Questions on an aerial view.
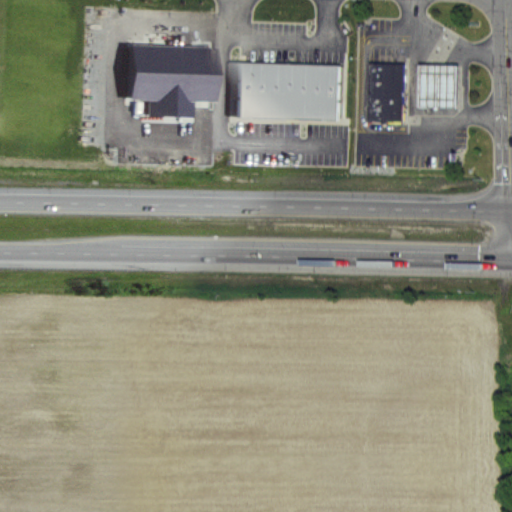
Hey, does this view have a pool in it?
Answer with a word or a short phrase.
No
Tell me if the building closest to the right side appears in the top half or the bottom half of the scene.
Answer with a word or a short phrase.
top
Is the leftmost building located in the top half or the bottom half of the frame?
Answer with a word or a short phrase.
top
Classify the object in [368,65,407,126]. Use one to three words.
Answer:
building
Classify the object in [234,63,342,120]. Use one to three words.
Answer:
building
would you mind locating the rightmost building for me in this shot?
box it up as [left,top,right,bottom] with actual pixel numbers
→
[416,64,458,110]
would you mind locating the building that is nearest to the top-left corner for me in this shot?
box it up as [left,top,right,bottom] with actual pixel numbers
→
[128,46,222,116]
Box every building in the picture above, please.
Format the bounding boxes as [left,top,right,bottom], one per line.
[128,46,222,116]
[416,64,458,110]
[368,65,407,126]
[234,63,342,120]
